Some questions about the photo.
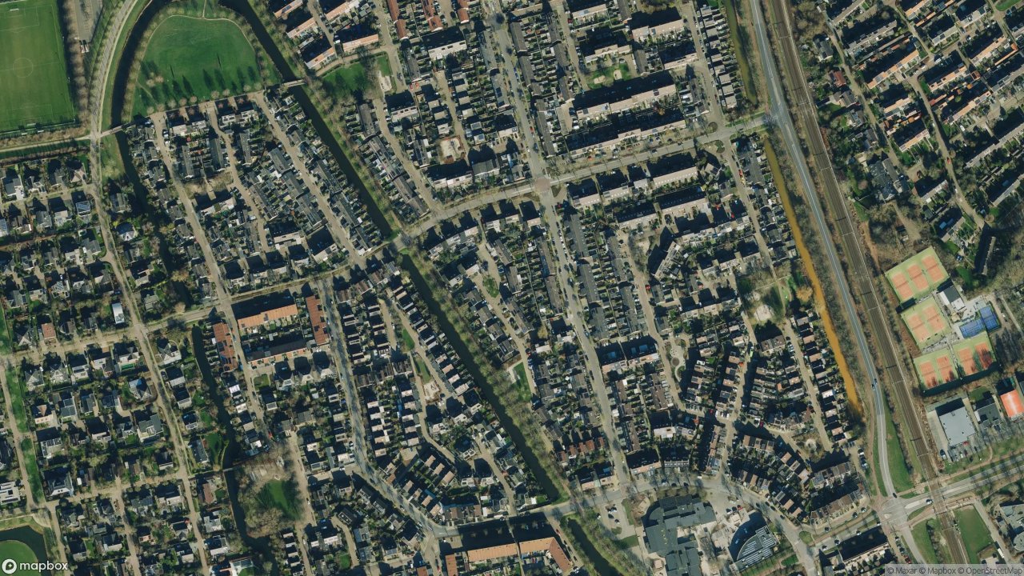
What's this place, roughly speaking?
residential area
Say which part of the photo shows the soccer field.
top left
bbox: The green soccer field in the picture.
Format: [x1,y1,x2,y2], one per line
[0,0,71,132]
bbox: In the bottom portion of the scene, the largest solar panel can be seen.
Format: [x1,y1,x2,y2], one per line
[743,529,775,567]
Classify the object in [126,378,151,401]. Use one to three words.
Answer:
house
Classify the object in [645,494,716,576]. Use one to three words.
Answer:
building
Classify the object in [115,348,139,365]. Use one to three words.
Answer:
house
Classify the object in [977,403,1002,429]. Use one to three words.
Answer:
building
